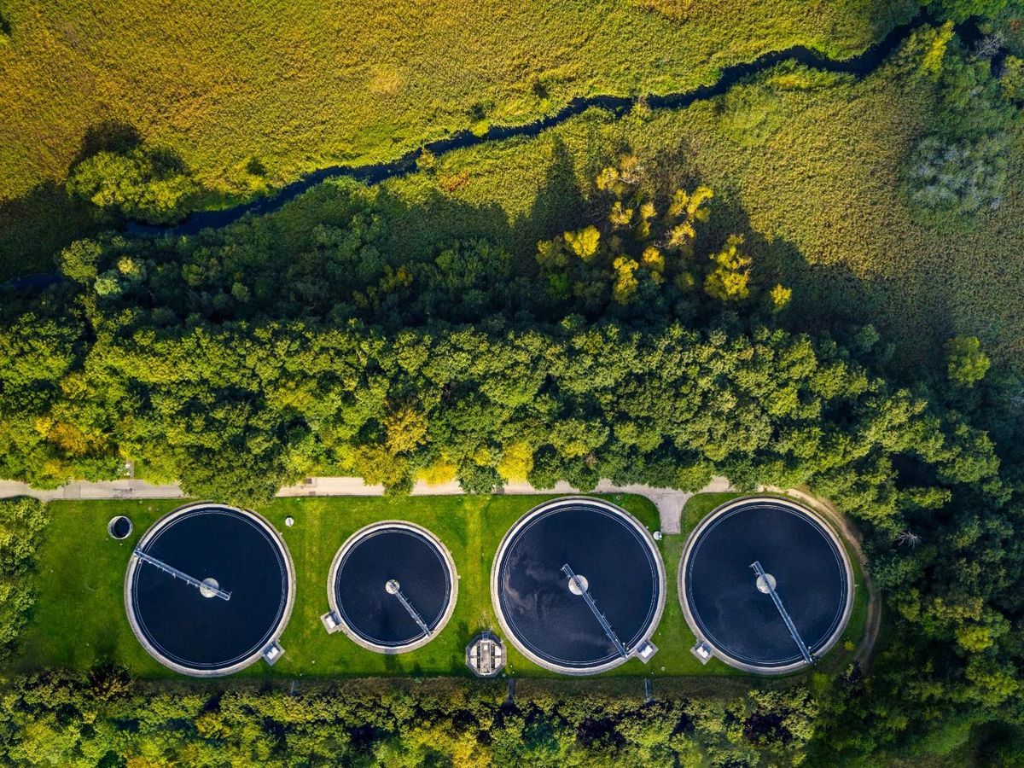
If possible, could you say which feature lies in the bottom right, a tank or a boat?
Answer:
tank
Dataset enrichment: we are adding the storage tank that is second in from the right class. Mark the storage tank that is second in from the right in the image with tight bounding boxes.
[490,498,666,675]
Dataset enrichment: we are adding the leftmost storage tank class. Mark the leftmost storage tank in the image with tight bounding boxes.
[123,504,296,676]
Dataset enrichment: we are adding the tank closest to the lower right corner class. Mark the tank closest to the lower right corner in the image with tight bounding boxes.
[678,498,855,675]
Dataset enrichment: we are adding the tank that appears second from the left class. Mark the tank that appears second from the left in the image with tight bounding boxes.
[320,521,459,654]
